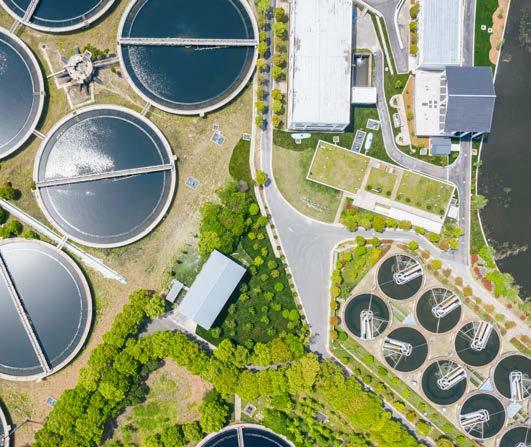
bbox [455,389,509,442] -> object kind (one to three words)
storage tank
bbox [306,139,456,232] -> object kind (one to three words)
building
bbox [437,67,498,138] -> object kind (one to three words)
building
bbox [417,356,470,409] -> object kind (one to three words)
storage tank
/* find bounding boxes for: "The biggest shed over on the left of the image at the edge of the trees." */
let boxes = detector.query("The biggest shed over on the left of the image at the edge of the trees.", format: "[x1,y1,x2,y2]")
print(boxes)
[179,250,246,329]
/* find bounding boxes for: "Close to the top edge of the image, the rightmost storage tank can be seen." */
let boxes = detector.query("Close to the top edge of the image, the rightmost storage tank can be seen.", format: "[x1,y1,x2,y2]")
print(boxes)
[116,0,259,118]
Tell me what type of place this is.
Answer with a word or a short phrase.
industrial area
